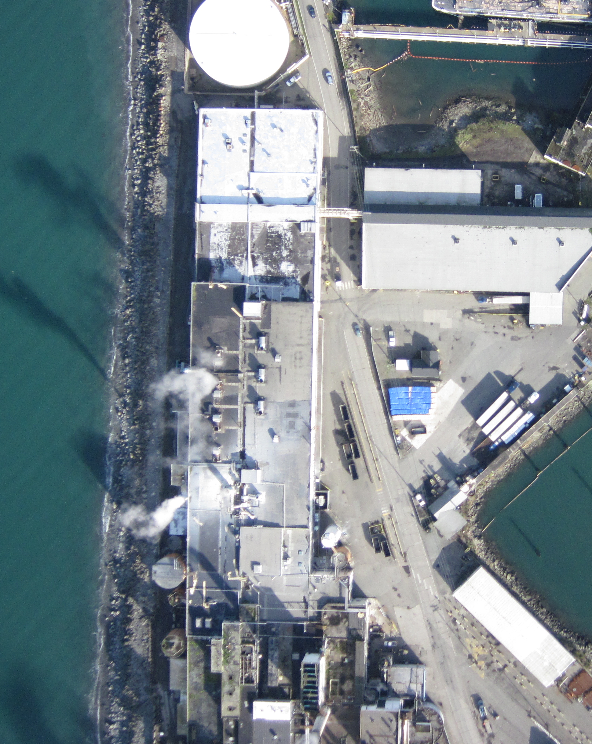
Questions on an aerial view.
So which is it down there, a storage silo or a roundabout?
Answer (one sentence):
It is a storage silo that can be seen here.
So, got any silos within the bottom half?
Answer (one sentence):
Yes, within the bottom half there is a silo.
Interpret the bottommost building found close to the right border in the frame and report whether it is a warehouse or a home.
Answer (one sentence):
It turns out the bottommost building found close to the right border is a warehouse.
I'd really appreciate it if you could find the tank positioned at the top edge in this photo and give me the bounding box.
[190,0,294,91]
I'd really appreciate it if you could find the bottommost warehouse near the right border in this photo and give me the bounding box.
[454,562,575,687]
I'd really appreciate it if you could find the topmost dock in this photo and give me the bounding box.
[333,8,592,50]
